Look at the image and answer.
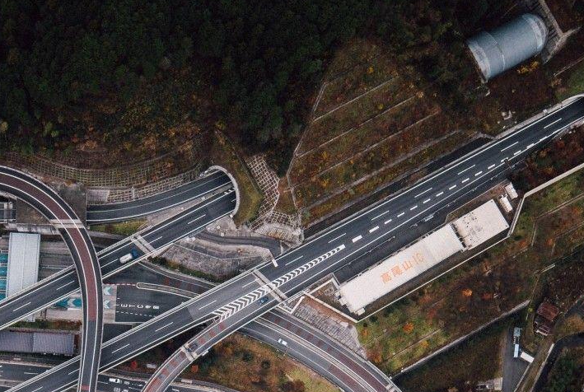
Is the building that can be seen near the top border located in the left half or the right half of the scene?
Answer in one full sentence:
You can find the building that can be seen near the top border on the right side of the picture.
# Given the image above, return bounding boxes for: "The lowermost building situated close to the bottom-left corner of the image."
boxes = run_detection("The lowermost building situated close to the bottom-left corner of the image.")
[0,329,80,357]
